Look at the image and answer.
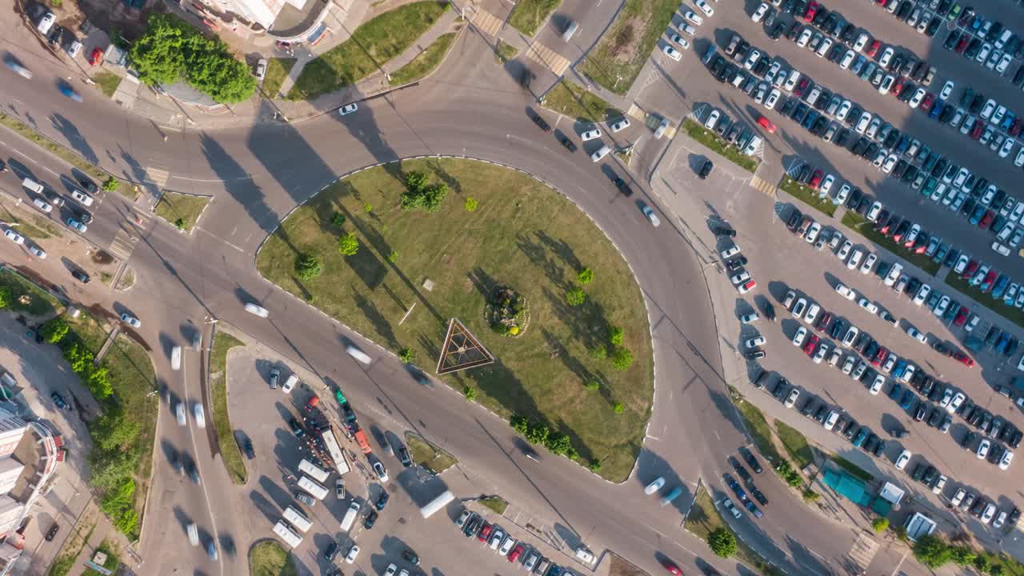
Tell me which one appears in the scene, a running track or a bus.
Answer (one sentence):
The one in the frame is a bus.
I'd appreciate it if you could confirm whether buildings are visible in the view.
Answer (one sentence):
Yes, there's a building here.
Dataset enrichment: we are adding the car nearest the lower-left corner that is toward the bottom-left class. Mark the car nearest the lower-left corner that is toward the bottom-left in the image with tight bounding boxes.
[44,520,61,541]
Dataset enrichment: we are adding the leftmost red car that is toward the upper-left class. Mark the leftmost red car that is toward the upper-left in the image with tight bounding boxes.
[89,46,104,67]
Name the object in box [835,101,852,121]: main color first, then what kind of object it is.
white car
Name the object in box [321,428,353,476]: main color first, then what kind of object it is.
white bus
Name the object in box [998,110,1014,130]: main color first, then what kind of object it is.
blue car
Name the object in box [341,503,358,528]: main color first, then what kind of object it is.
white vehicle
